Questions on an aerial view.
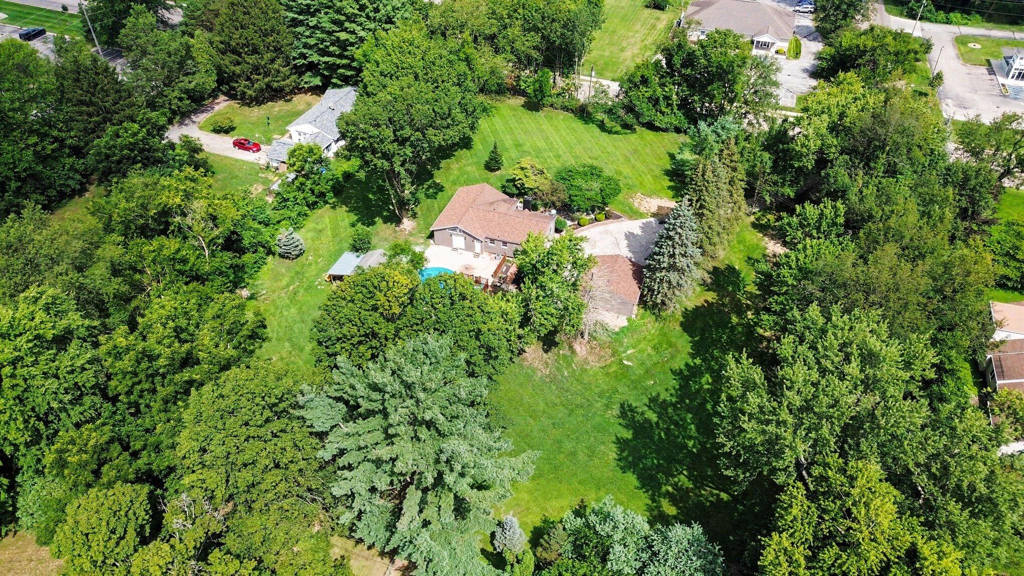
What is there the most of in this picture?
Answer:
trees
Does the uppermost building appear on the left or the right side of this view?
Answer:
right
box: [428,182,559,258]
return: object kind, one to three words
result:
house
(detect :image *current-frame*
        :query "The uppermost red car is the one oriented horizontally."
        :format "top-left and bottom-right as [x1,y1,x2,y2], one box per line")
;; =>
[230,138,262,154]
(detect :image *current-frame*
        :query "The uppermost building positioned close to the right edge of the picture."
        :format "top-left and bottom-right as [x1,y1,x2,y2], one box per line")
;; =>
[989,36,1024,86]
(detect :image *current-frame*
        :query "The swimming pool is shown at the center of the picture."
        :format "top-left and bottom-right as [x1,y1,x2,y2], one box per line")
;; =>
[414,269,477,307]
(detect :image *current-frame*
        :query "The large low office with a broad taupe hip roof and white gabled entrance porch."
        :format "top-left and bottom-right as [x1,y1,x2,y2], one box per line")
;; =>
[679,0,797,49]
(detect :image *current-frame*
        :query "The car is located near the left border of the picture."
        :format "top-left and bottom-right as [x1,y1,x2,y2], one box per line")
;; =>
[16,28,48,41]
